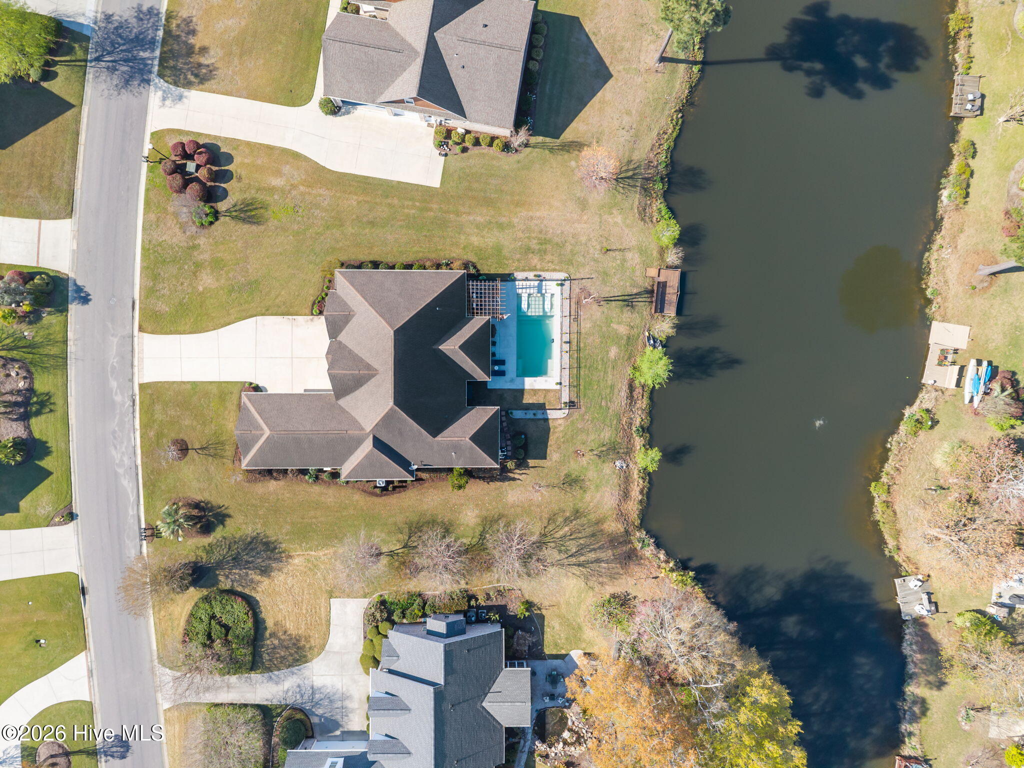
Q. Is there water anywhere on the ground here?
Yes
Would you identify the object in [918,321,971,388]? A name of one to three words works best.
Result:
pier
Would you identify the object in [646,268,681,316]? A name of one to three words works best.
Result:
pier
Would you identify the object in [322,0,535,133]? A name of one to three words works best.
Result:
house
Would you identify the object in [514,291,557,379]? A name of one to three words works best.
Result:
swimming pool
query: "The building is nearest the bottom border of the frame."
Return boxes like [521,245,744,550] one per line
[284,614,531,768]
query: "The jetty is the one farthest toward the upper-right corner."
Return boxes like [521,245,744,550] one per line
[945,75,982,119]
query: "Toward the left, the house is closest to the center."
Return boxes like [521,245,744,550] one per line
[232,270,500,481]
